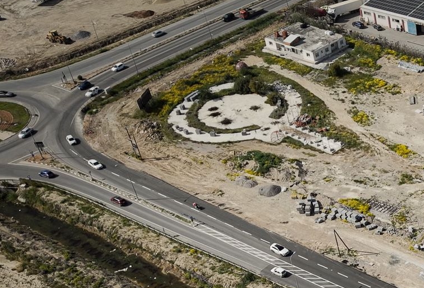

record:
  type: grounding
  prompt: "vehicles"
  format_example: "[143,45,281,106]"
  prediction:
[111,63,125,71]
[65,136,78,145]
[109,195,129,207]
[373,25,383,30]
[222,14,236,20]
[51,30,74,44]
[38,171,55,178]
[0,91,15,98]
[271,243,289,256]
[270,268,290,279]
[83,87,103,97]
[327,0,368,17]
[77,82,94,90]
[309,2,327,16]
[17,128,35,138]
[88,160,104,169]
[352,21,364,28]
[239,9,265,19]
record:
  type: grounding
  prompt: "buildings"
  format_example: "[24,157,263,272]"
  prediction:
[258,23,354,67]
[359,0,424,35]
